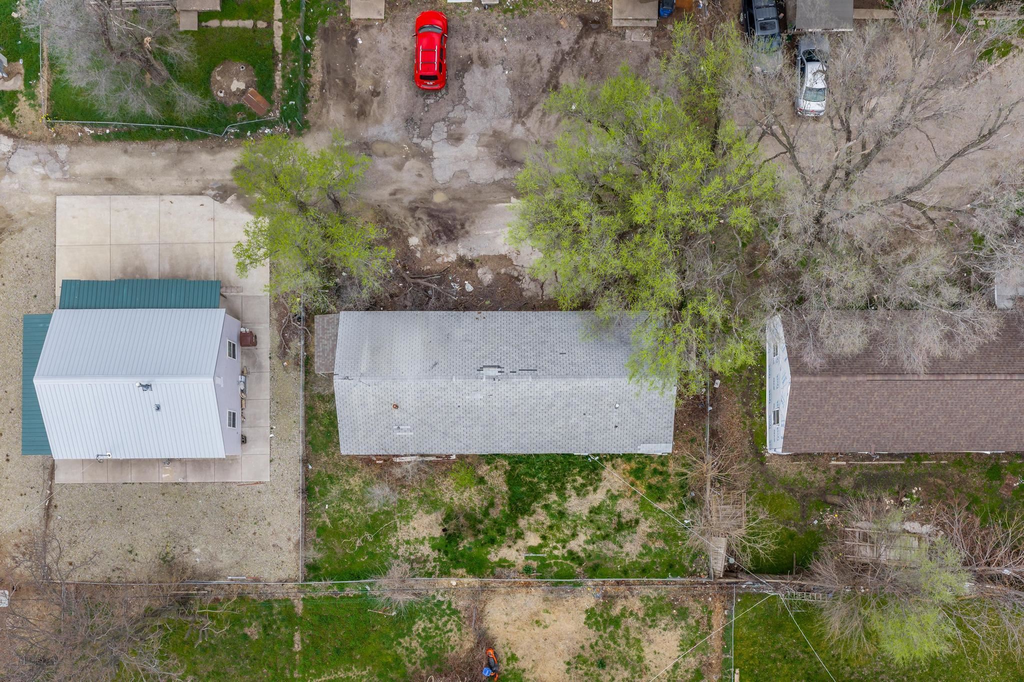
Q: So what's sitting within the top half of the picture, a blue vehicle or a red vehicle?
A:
red vehicle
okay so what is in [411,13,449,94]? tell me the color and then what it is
red car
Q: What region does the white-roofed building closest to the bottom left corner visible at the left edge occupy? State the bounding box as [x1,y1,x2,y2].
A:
[23,279,242,465]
